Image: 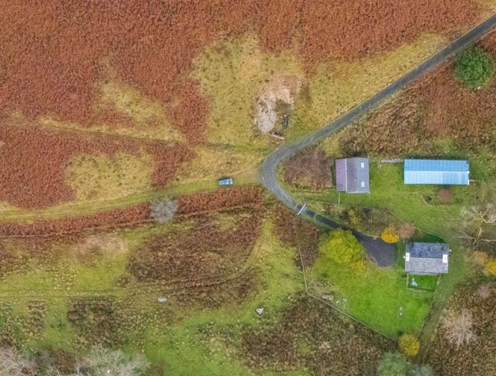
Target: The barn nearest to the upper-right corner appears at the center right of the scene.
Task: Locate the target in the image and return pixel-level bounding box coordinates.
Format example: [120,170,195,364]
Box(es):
[404,159,470,186]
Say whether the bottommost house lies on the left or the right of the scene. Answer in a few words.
right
